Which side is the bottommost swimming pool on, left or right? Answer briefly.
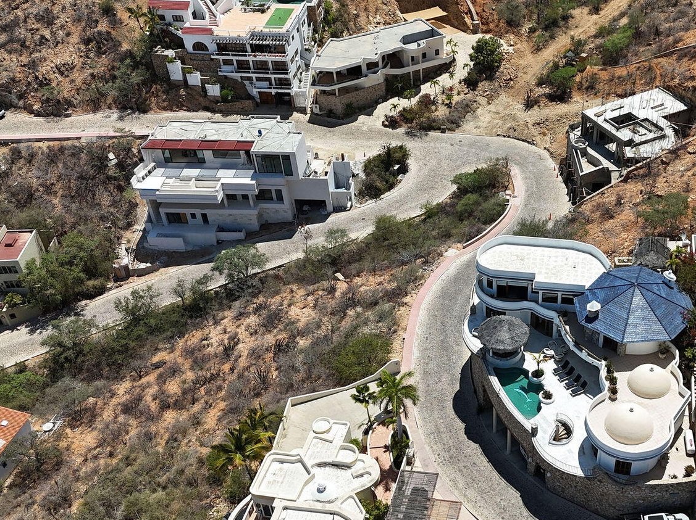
right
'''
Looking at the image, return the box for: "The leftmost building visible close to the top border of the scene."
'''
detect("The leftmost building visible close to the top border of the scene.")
[149,0,322,115]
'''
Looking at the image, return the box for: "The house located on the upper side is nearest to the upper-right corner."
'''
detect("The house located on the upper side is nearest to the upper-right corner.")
[556,85,689,212]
